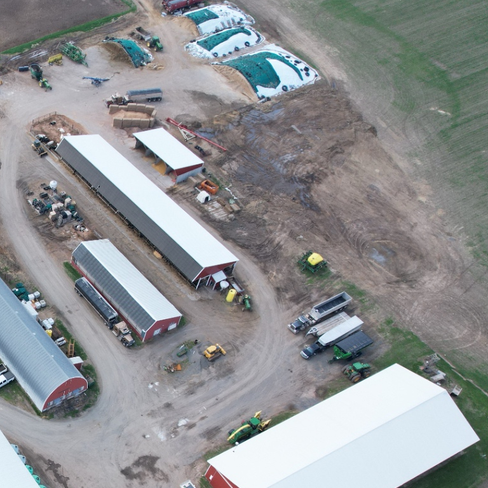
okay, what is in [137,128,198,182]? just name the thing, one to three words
shed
